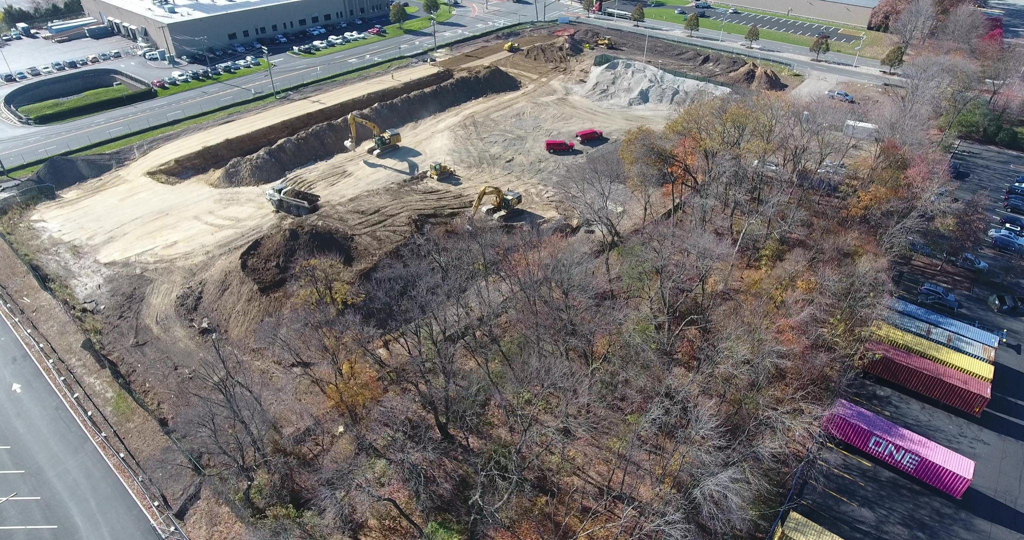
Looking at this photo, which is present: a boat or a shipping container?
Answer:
shipping container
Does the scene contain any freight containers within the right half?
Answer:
Yes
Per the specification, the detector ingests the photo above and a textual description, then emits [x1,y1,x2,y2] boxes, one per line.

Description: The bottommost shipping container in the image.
[775,511,839,540]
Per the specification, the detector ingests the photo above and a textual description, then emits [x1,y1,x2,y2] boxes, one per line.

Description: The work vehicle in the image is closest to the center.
[463,183,525,227]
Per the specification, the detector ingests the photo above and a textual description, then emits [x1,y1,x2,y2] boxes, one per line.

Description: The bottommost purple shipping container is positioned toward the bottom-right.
[822,399,975,499]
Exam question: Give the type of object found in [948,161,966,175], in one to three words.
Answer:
car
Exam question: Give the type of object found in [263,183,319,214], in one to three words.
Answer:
truck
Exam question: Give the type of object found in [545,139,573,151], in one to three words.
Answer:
vehicle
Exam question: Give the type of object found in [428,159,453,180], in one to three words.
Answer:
work vehicle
